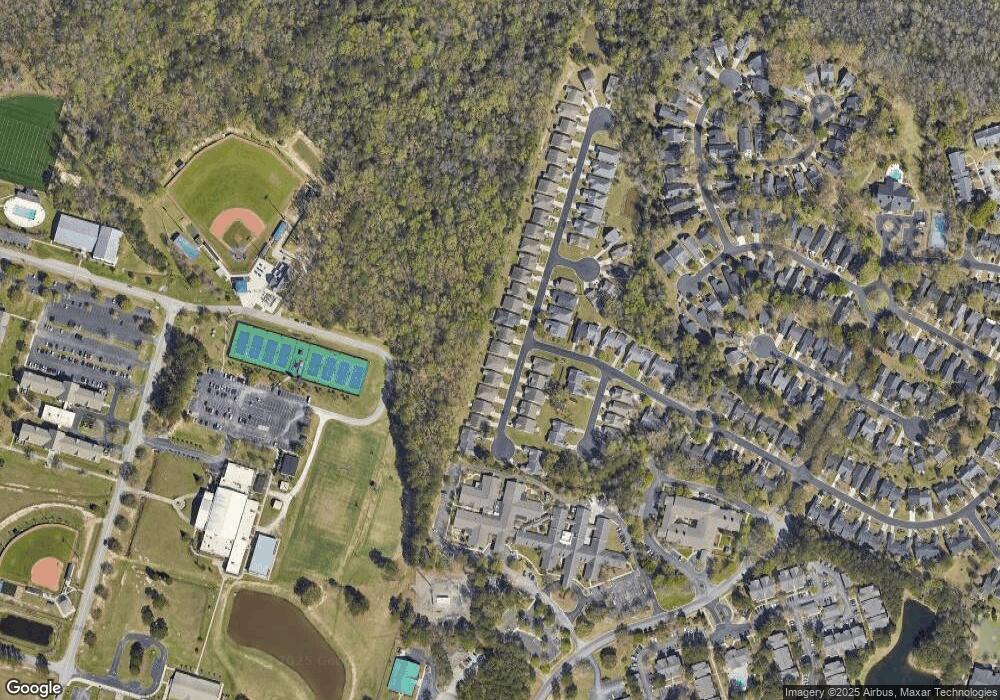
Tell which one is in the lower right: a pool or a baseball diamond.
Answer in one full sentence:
What appears in the lower right is a pool.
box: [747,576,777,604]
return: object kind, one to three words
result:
building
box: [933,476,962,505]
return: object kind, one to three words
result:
house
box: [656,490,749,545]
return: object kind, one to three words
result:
house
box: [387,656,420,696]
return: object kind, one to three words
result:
building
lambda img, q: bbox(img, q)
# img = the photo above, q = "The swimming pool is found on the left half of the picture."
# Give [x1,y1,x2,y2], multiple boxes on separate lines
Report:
[4,198,45,226]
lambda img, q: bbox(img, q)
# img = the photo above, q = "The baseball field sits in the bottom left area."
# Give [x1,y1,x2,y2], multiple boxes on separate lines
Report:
[0,524,78,594]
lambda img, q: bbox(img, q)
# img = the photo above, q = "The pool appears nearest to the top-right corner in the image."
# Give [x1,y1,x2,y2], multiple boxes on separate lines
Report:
[887,164,903,181]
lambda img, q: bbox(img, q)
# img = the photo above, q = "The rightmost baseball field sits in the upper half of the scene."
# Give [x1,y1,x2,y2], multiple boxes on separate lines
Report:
[165,134,305,279]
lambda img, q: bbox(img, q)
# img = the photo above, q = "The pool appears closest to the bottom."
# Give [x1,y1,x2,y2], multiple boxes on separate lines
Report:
[728,667,748,691]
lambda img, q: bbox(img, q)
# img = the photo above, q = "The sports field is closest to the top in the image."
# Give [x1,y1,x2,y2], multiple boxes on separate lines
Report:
[0,95,62,190]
